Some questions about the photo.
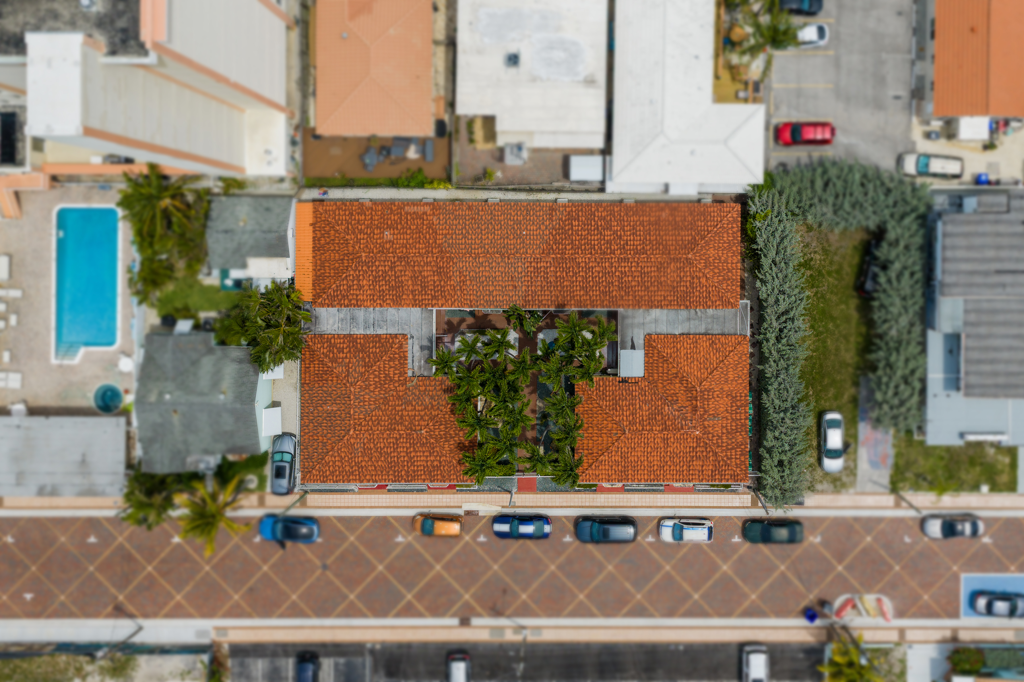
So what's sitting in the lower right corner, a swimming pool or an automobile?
automobile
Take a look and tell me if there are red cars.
Yes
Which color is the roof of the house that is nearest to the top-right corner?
orange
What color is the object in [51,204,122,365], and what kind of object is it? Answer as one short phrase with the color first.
blue swimming pool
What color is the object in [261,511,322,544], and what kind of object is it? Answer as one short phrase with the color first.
blue car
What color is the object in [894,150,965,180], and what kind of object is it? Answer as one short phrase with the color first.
white van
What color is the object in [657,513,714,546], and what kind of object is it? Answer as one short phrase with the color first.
white car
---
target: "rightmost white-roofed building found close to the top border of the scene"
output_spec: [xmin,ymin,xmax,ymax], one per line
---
[609,0,765,192]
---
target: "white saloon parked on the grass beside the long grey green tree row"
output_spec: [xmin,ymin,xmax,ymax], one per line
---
[816,410,846,471]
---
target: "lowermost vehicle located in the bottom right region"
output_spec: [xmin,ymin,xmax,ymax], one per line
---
[740,640,769,682]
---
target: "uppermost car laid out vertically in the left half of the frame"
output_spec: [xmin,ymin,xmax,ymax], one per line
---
[269,431,299,494]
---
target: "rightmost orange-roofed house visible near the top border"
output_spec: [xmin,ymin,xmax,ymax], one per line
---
[917,0,1024,117]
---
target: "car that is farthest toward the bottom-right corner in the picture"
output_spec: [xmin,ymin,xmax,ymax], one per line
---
[966,587,1024,620]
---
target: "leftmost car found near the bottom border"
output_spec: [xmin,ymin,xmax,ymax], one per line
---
[295,647,323,682]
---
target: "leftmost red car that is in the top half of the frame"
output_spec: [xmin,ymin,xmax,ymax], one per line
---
[773,118,839,147]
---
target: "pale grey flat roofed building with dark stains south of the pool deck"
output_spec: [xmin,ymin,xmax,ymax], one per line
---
[0,408,137,495]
